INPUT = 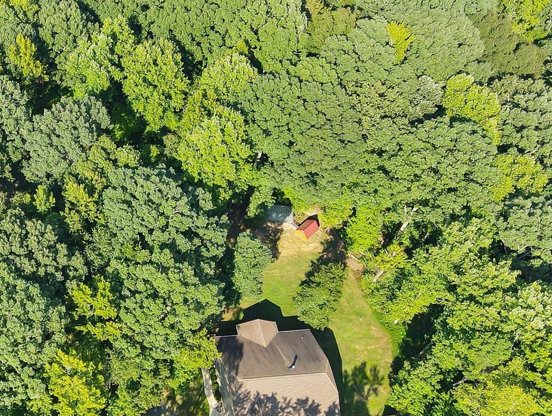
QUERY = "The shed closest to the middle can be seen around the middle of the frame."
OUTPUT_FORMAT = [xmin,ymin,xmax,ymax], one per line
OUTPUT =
[264,206,295,228]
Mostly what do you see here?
trees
